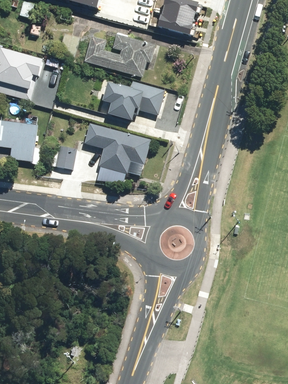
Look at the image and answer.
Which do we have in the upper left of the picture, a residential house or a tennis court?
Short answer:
residential house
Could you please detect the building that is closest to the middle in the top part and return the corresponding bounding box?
[84,124,150,184]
